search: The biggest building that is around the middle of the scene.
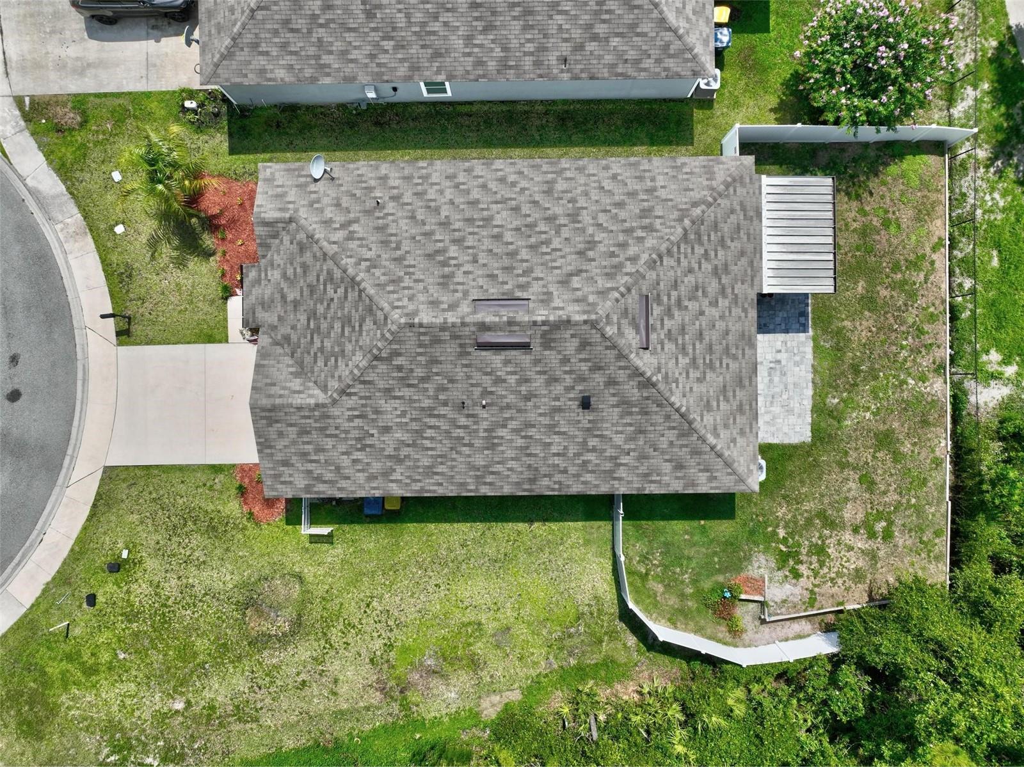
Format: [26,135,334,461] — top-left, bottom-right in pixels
[238,156,762,498]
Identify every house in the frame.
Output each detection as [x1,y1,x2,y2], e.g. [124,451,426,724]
[199,0,714,112]
[238,156,762,498]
